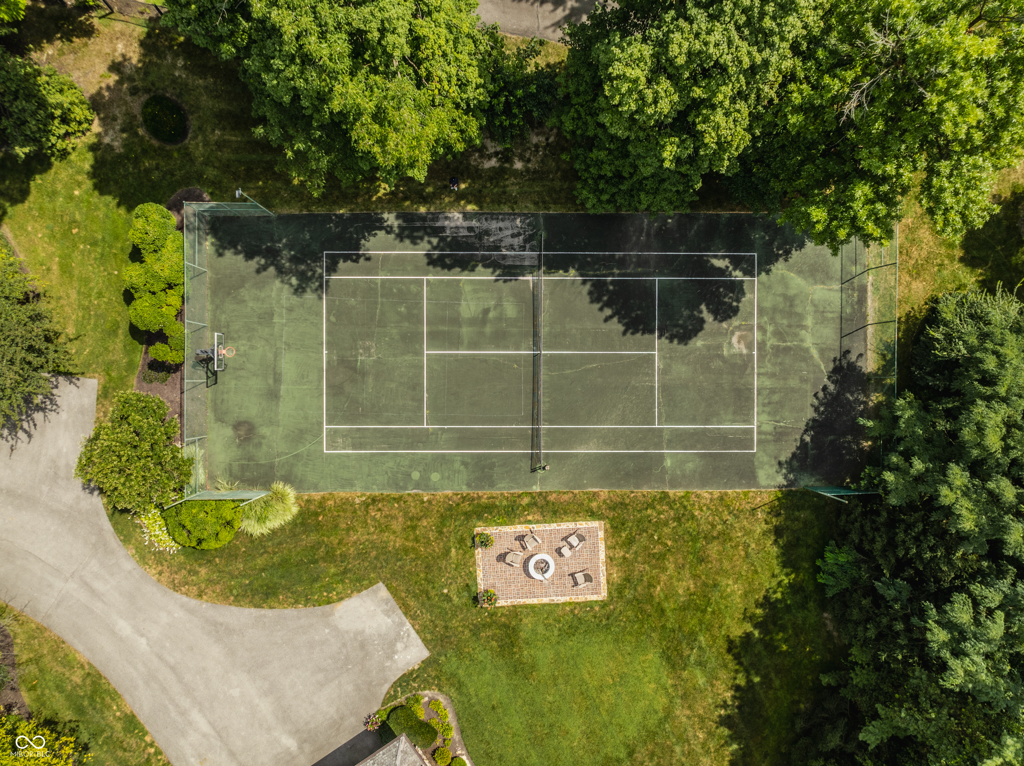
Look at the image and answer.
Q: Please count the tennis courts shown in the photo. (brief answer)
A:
1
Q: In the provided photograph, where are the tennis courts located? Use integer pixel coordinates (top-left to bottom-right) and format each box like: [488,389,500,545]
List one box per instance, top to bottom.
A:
[207,211,869,492]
